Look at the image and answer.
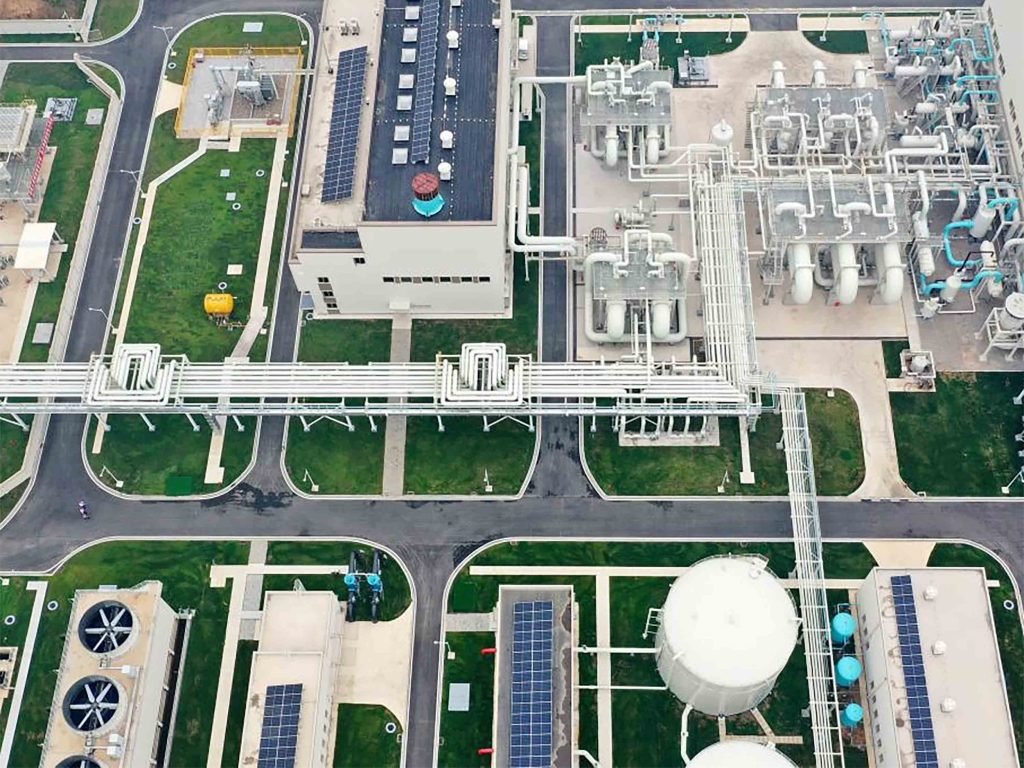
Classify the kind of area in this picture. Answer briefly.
industrial area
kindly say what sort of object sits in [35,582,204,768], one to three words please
cooling tower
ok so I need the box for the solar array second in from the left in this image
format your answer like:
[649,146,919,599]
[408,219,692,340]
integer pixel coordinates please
[323,46,368,201]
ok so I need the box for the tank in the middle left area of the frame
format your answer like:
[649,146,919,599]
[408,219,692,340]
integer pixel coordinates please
[202,293,247,323]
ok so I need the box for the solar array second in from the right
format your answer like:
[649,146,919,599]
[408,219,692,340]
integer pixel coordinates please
[509,602,552,768]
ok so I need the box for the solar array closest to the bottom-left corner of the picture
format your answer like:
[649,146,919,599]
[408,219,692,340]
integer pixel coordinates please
[257,684,303,768]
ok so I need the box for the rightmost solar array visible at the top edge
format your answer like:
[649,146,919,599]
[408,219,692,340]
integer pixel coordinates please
[412,0,441,162]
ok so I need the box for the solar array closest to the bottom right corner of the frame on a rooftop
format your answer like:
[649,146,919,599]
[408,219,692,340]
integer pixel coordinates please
[890,574,938,768]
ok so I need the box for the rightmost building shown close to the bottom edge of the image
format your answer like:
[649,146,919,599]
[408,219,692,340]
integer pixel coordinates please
[859,569,1019,768]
